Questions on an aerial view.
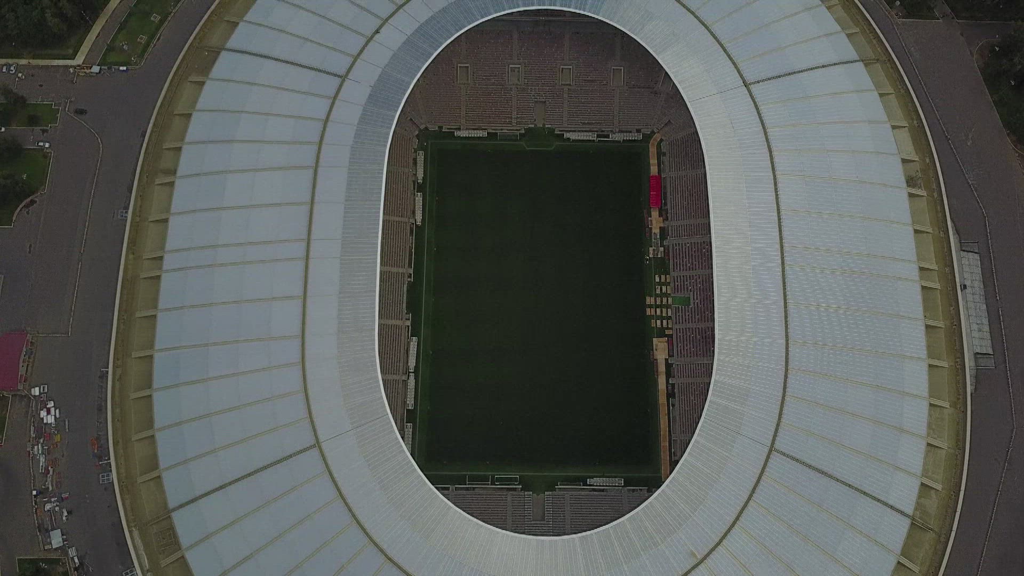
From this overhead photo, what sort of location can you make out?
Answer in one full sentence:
This image shows a sports ground.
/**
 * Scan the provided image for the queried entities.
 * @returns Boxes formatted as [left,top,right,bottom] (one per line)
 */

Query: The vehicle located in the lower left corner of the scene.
[65,546,81,566]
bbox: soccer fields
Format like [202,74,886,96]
[400,119,675,494]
